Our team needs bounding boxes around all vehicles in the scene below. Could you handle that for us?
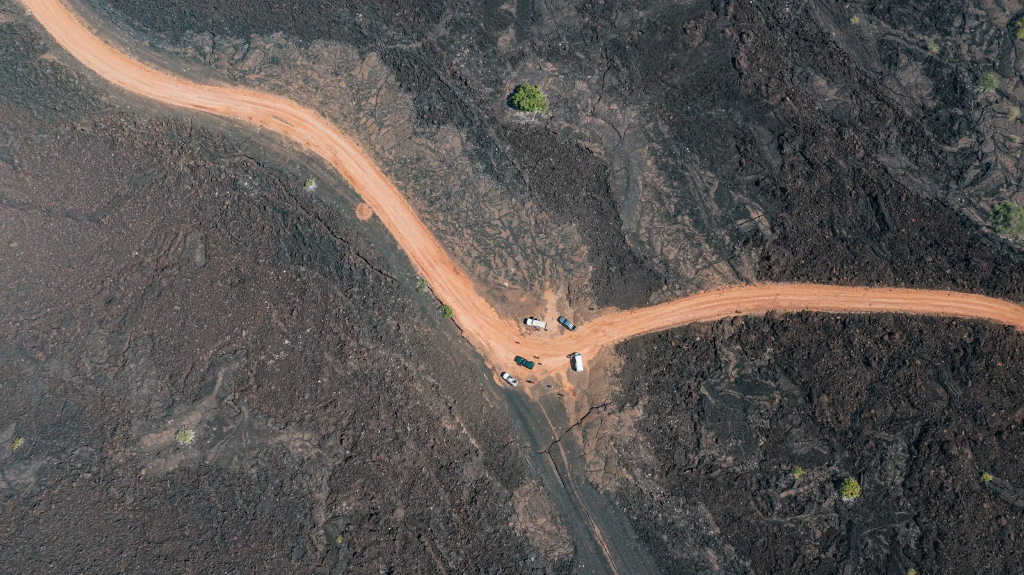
[502,371,519,387]
[526,319,547,330]
[516,356,535,370]
[558,315,578,332]
[570,352,582,372]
